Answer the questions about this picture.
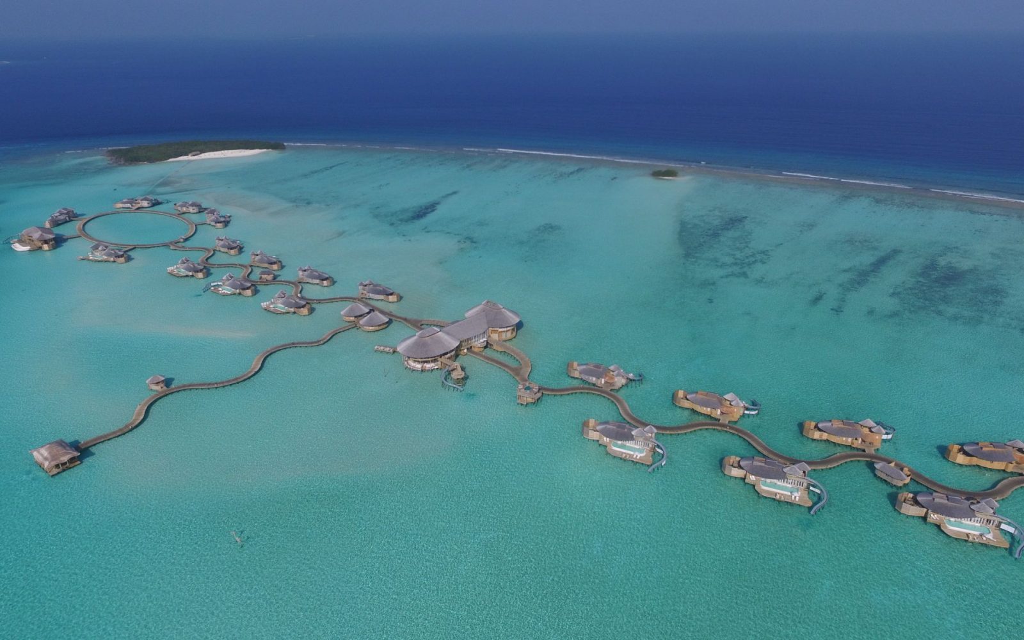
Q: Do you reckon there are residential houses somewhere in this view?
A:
Yes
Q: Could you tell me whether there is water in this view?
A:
Yes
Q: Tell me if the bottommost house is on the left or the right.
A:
right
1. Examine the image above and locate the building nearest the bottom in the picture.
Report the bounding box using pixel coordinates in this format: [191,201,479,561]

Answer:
[894,494,1024,561]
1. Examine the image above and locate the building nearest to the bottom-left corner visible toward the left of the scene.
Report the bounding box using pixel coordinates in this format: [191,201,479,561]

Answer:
[30,438,82,477]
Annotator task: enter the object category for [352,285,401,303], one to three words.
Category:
house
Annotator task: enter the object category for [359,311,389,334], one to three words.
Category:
building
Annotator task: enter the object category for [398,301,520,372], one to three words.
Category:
building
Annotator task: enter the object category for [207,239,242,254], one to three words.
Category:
house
